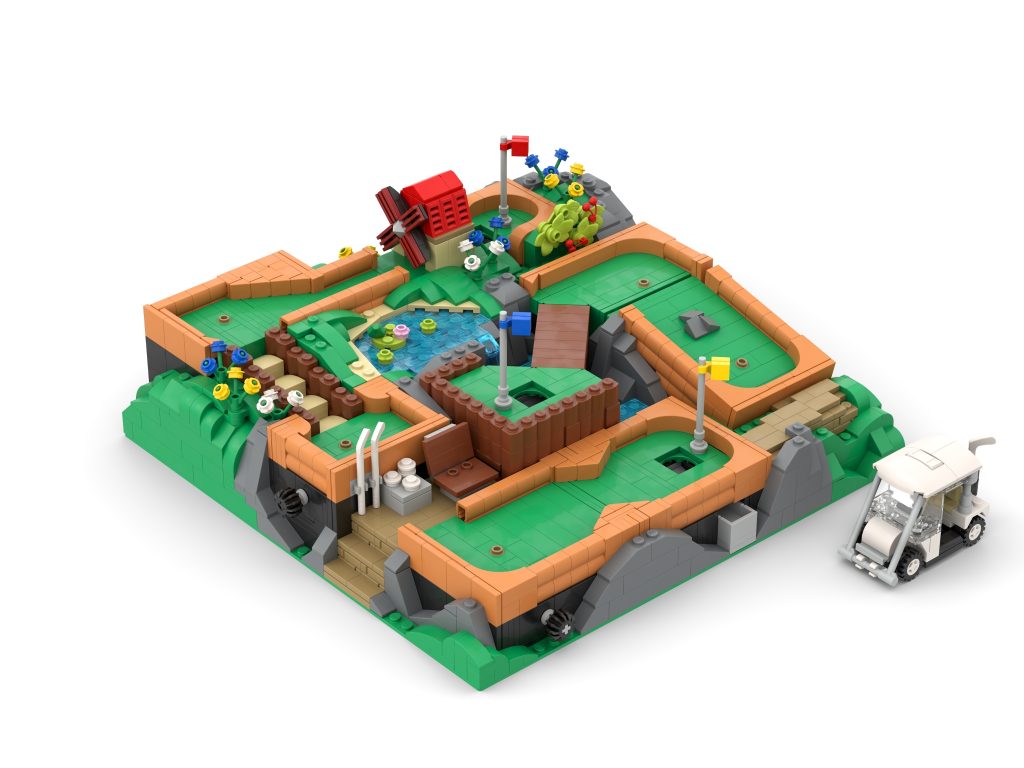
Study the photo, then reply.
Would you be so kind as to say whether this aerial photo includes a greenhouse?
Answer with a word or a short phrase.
No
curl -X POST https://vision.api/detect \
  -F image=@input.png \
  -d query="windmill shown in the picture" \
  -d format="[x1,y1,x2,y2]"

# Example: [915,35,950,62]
[376,170,475,270]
